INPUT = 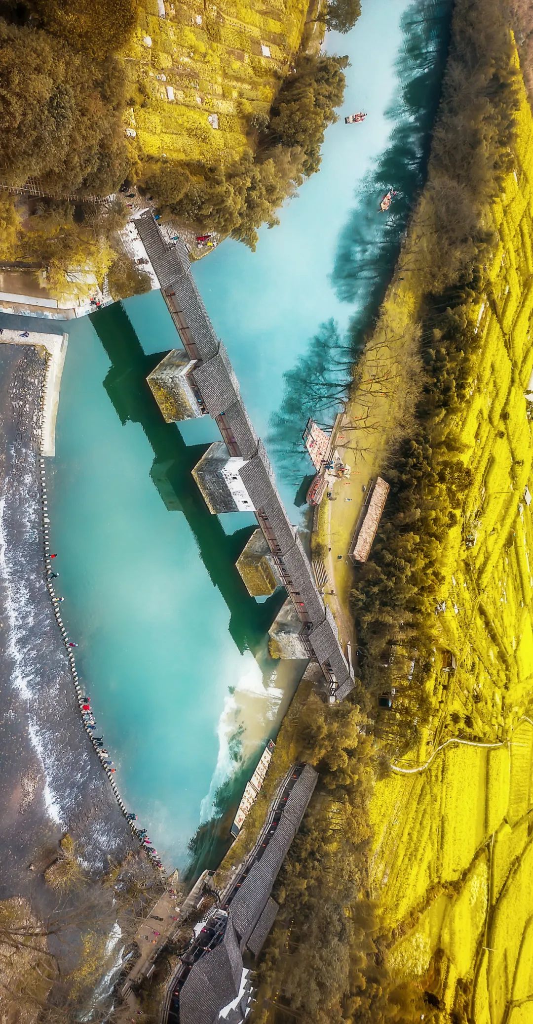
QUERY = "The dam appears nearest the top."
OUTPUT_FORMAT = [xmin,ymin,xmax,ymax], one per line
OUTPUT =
[0,330,63,455]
